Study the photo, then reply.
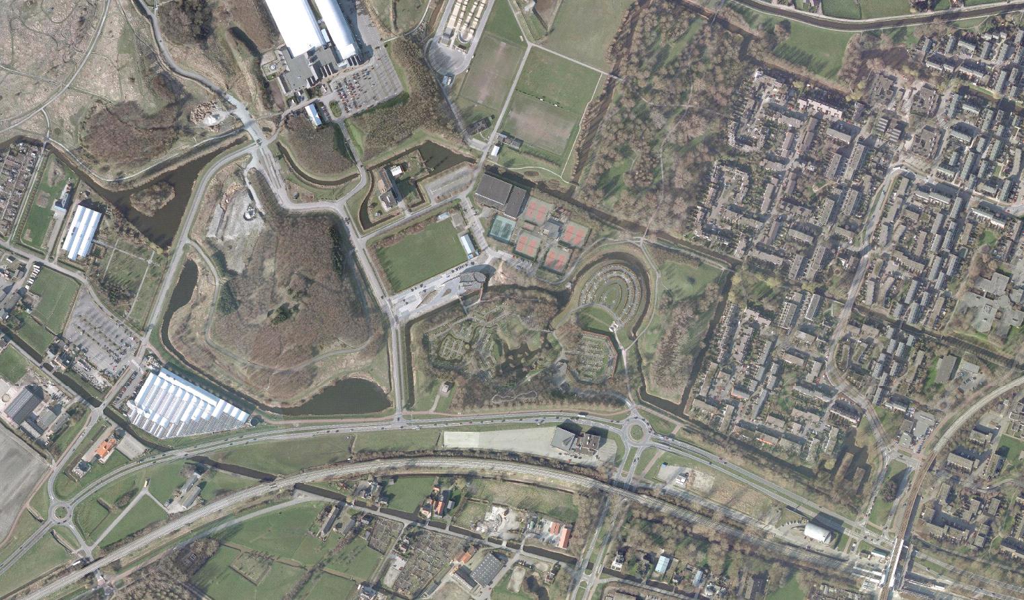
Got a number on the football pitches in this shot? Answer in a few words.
4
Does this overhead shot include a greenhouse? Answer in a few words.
Yes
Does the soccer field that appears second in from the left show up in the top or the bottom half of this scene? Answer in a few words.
top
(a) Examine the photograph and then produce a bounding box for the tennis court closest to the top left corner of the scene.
[488,215,516,243]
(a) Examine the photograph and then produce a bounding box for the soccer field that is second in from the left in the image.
[462,33,524,110]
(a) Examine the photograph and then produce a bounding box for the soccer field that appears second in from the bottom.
[504,93,577,154]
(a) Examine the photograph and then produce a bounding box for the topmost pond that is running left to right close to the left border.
[0,137,251,250]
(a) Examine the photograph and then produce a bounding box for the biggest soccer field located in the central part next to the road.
[372,217,475,292]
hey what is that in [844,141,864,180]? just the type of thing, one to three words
house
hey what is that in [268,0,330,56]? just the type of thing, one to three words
building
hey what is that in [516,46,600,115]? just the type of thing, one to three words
soccer field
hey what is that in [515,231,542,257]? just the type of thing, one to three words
tennis court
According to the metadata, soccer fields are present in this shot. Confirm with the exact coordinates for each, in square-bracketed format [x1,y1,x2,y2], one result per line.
[504,93,577,154]
[462,33,524,110]
[516,46,600,115]
[372,217,475,292]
